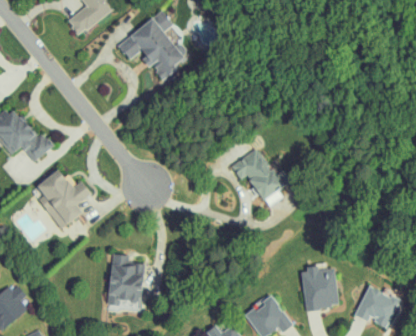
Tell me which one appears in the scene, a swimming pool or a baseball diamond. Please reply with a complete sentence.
The image shows a swimming pool.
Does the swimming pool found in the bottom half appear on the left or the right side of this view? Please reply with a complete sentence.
It is on the left.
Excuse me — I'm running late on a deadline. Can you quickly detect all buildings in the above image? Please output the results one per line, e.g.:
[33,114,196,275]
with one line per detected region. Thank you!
[354,286,404,332]
[70,0,116,36]
[0,285,30,335]
[106,254,147,306]
[230,149,286,200]
[206,326,242,336]
[0,108,55,164]
[36,170,93,230]
[115,8,191,83]
[302,267,340,314]
[246,296,295,336]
